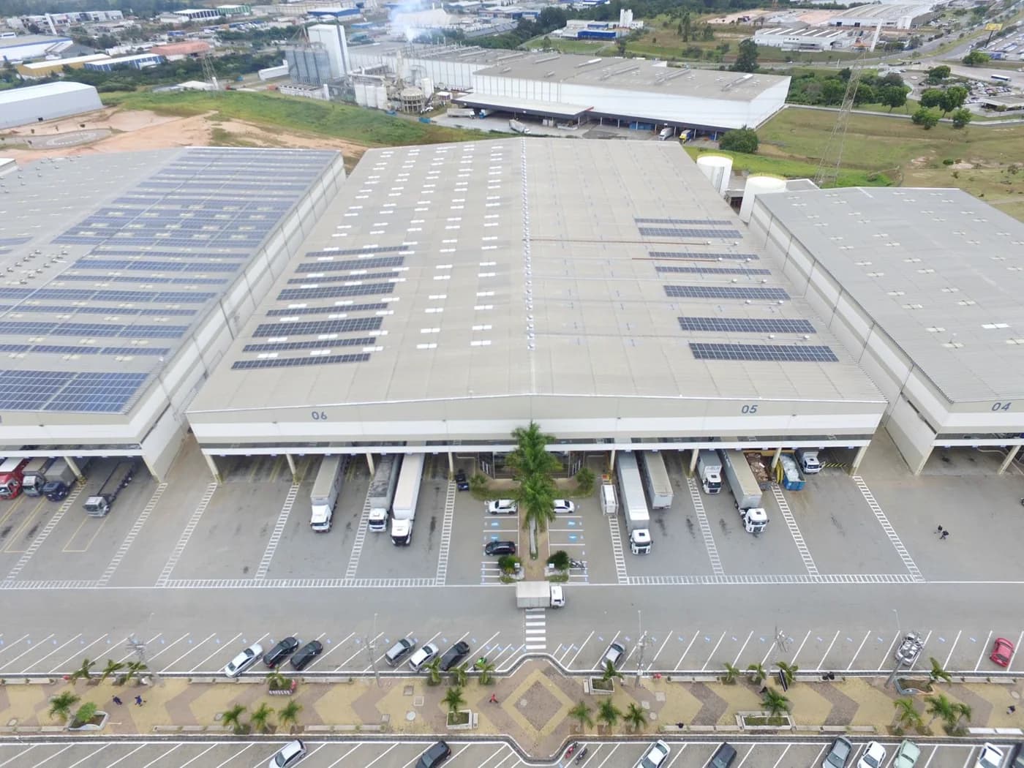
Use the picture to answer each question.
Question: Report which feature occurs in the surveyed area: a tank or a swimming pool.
tank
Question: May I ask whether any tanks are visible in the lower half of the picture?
No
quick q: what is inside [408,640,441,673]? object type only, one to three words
car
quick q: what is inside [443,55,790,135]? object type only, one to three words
building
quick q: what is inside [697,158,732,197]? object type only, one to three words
storage tank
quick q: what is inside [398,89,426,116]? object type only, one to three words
cooling tower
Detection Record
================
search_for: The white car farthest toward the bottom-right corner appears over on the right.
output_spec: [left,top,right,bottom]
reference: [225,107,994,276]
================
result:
[982,741,1008,768]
